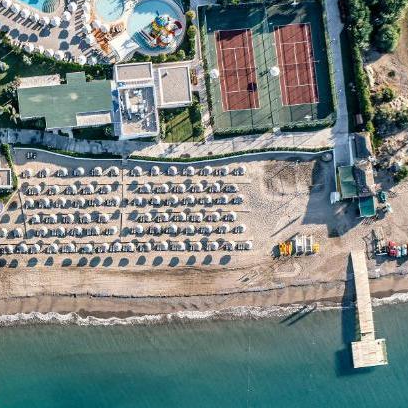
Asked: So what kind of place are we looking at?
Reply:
beach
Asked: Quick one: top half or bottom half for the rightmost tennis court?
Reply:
top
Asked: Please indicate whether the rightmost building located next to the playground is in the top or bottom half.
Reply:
top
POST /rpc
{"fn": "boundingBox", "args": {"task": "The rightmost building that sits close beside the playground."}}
[156,66,193,108]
